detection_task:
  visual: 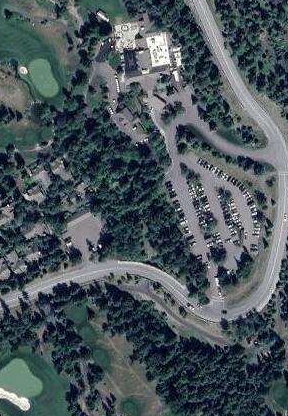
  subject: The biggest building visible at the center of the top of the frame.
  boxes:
[124,28,174,79]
